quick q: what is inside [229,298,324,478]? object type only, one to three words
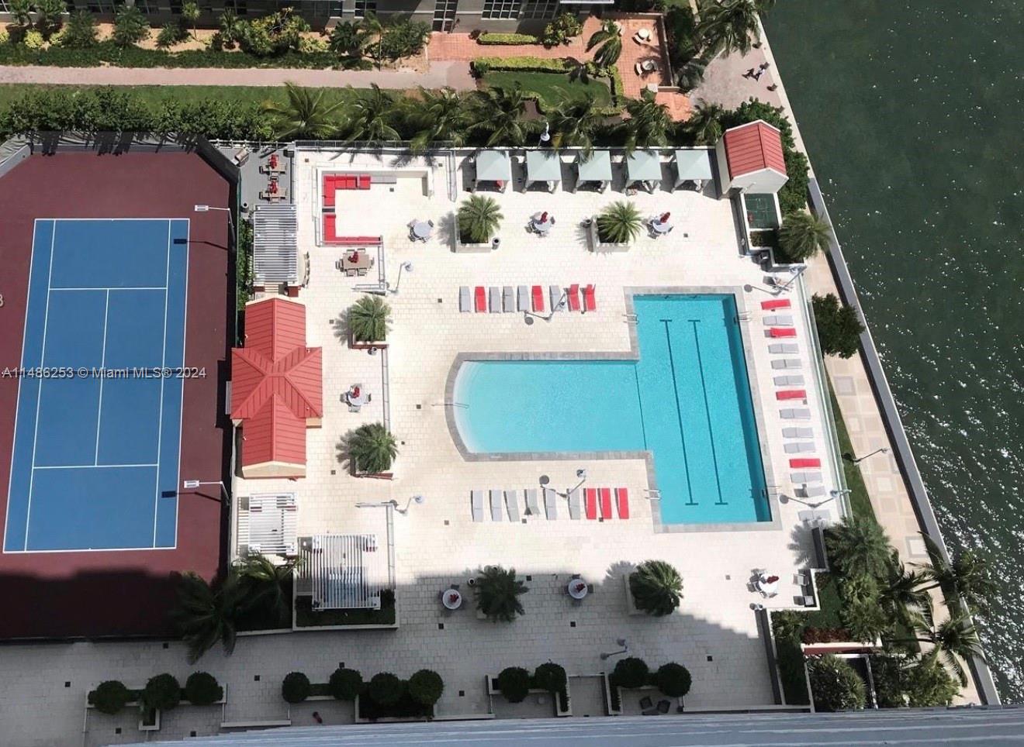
building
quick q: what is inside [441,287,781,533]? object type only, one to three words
swimming pool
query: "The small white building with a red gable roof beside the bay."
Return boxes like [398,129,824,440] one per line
[715,121,791,195]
